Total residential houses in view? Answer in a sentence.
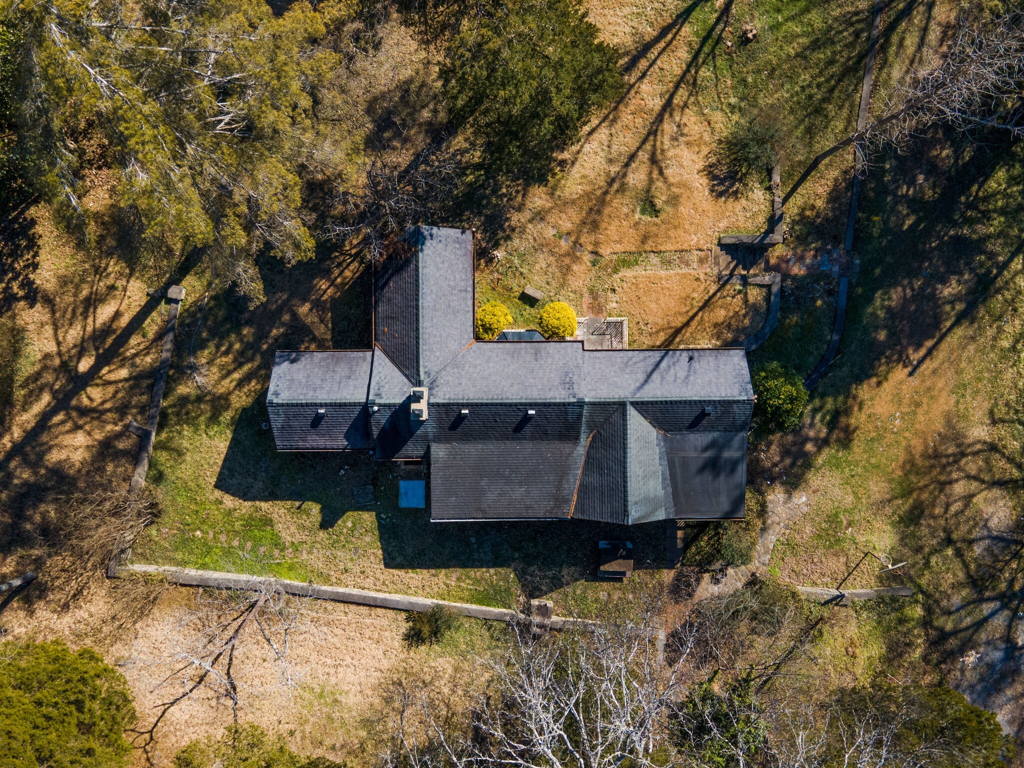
There is 1 residential house in the image.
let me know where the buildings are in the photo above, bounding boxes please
[264,225,757,526]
